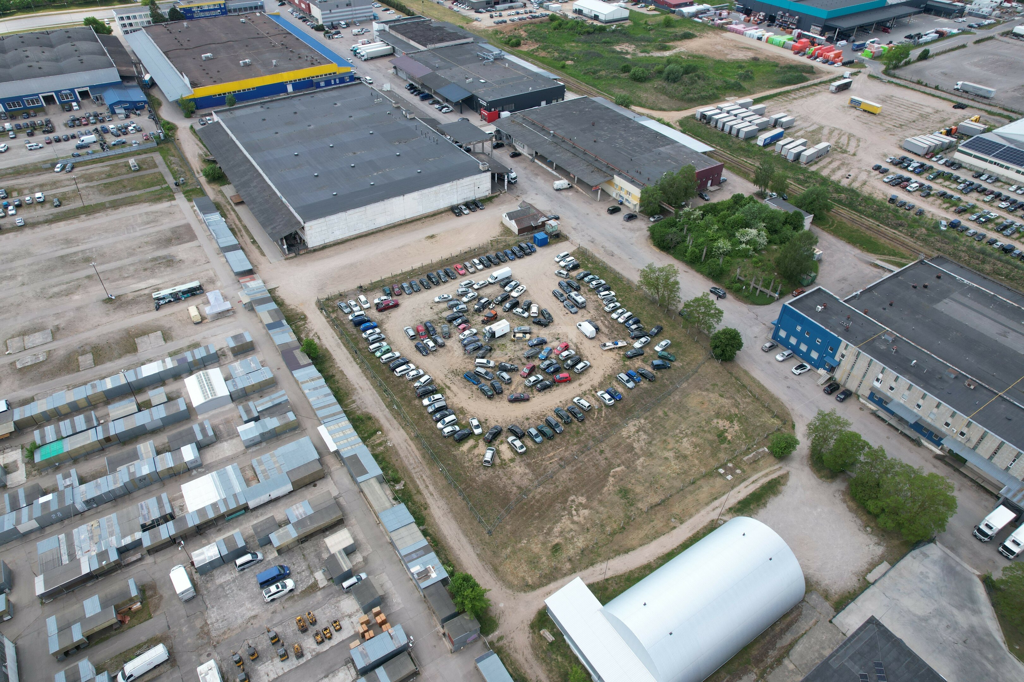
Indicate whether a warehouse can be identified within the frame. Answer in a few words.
Yes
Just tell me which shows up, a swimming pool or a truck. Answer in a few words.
truck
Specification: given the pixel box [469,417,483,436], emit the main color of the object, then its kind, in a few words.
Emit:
white car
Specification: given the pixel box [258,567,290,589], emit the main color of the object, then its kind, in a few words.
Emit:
blue vehicle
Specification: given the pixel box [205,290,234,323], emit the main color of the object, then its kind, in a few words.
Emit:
white tent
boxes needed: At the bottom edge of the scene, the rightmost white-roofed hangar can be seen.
[543,508,808,682]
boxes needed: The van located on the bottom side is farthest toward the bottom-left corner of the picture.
[121,644,169,681]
